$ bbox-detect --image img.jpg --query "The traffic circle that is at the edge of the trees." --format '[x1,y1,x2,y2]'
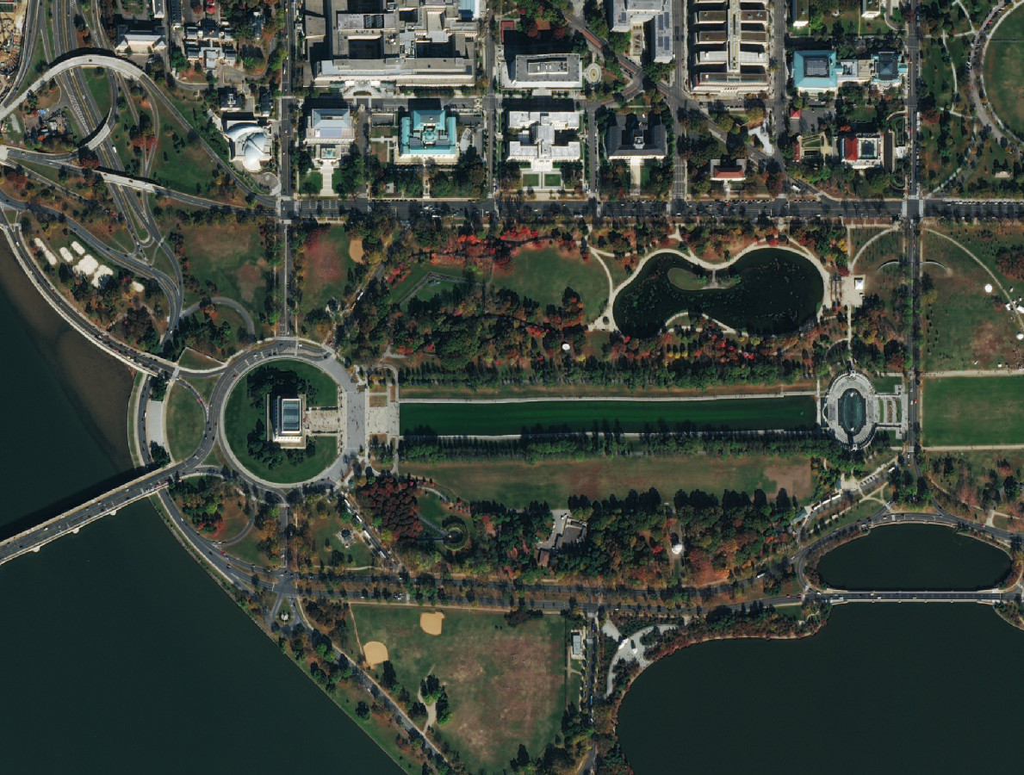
[208,344,328,496]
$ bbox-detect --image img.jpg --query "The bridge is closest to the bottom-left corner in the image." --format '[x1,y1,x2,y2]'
[0,467,177,570]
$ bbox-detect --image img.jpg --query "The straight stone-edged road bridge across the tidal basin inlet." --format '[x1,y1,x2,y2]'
[825,587,999,605]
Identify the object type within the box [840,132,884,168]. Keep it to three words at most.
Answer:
building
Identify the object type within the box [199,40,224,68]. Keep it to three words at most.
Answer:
building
